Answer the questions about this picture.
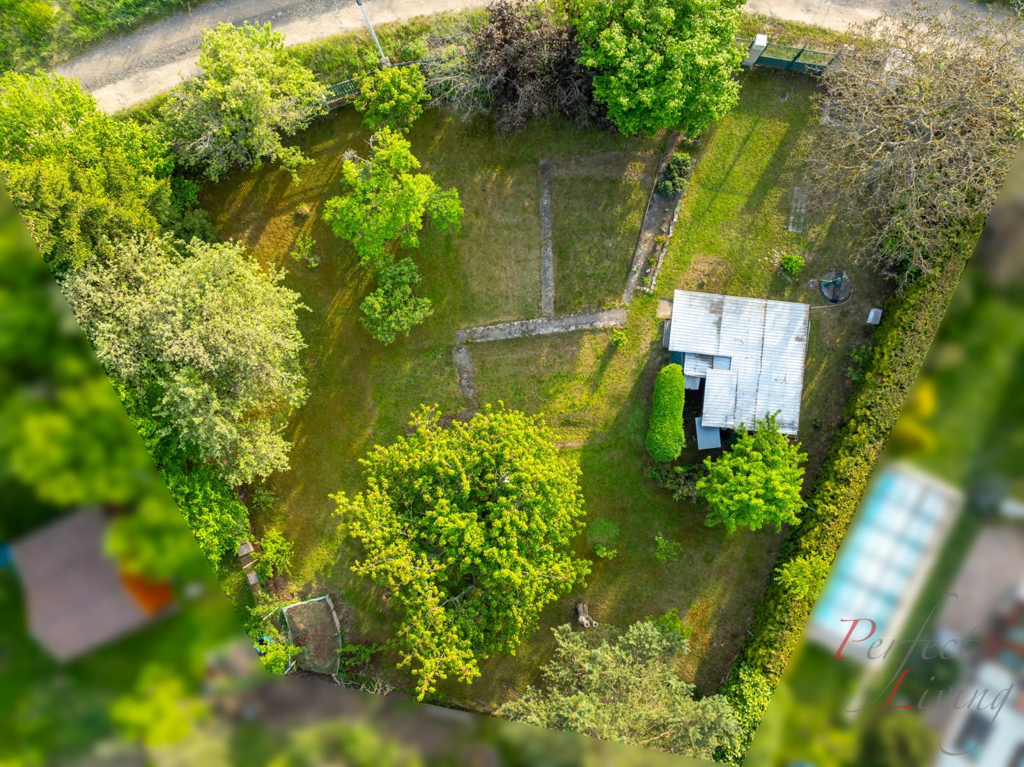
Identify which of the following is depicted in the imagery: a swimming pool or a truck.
swimming pool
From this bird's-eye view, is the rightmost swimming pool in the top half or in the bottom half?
bottom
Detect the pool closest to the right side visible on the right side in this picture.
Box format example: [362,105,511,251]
[812,470,962,672]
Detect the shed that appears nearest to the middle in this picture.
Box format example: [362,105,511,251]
[660,289,811,438]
